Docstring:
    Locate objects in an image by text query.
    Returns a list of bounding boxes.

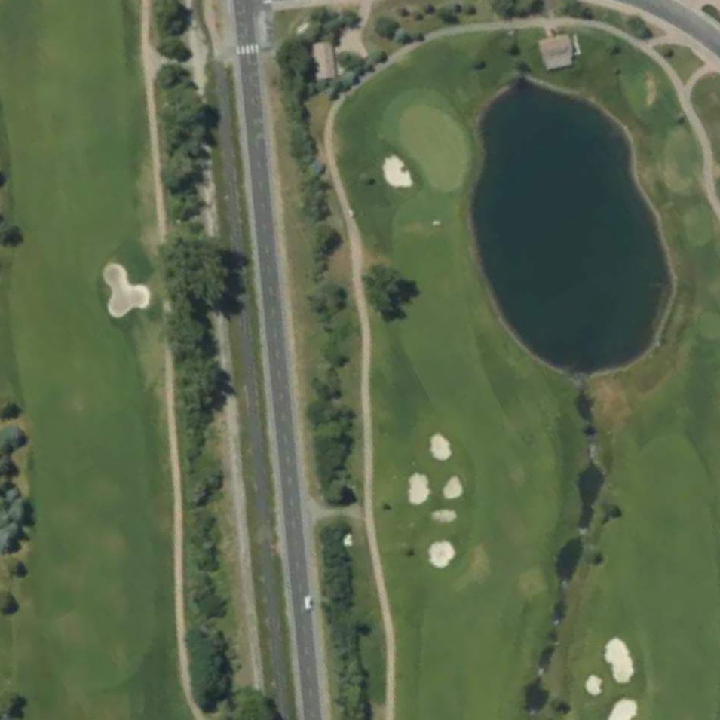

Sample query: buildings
[312,41,336,79]
[539,33,575,70]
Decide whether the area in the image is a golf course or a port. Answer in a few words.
golf course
